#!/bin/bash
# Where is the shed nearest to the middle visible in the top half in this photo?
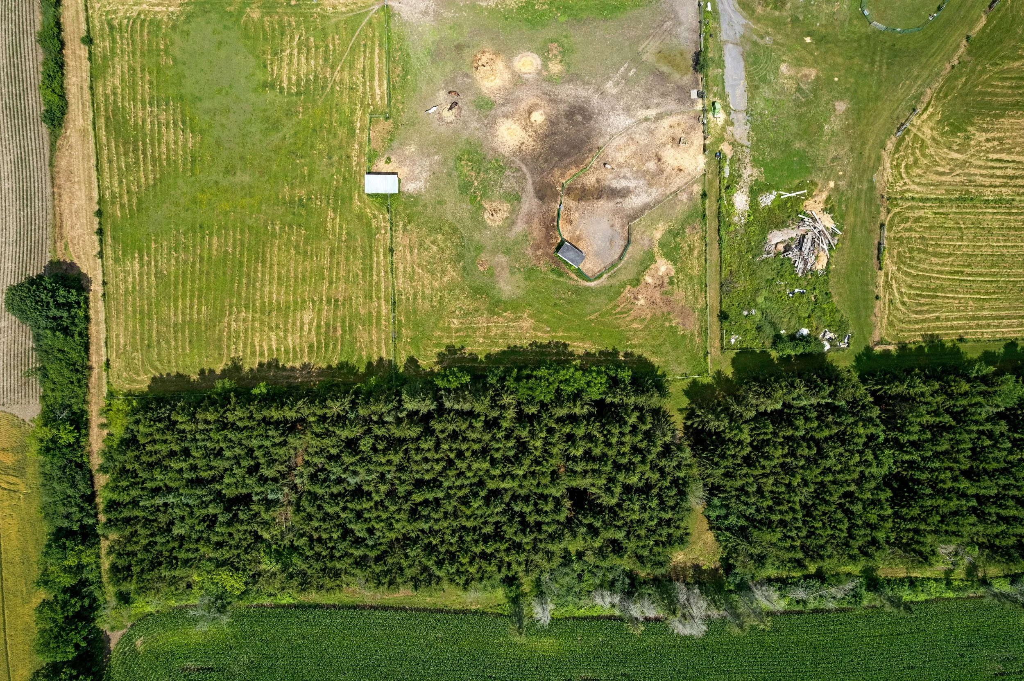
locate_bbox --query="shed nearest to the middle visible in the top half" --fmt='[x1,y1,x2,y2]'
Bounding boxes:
[556,241,586,269]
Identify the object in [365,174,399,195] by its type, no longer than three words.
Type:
shed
